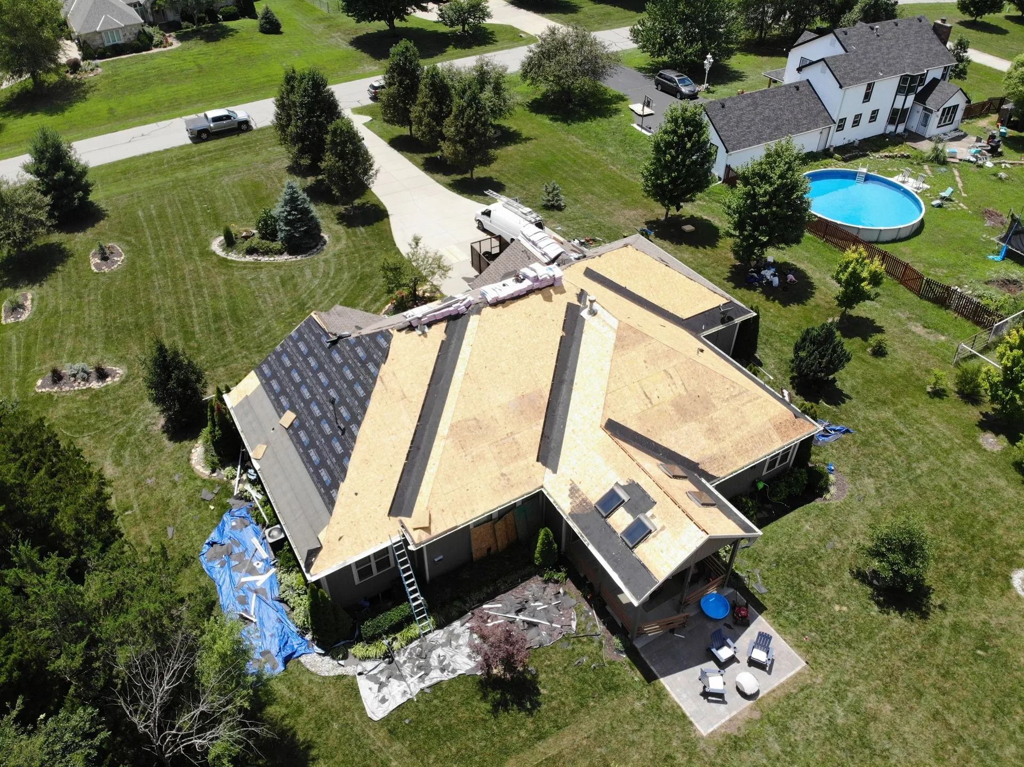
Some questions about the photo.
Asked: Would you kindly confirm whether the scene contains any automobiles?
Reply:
Yes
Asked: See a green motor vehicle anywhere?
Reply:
No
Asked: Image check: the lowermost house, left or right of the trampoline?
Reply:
on the left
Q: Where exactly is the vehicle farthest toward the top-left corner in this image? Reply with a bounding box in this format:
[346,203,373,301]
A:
[185,109,254,140]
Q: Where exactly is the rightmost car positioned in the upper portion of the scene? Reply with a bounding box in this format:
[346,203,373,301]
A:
[652,69,701,100]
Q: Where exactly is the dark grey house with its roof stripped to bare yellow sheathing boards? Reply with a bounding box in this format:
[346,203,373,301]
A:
[220,232,827,650]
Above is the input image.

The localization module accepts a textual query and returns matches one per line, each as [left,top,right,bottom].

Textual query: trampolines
[993,216,1024,264]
